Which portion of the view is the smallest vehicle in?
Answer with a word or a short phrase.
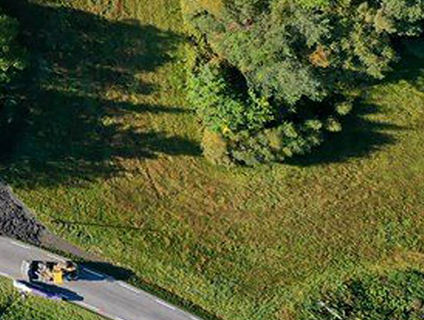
bottom left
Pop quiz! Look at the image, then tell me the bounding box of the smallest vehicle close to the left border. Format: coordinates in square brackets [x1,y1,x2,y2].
[14,278,59,303]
